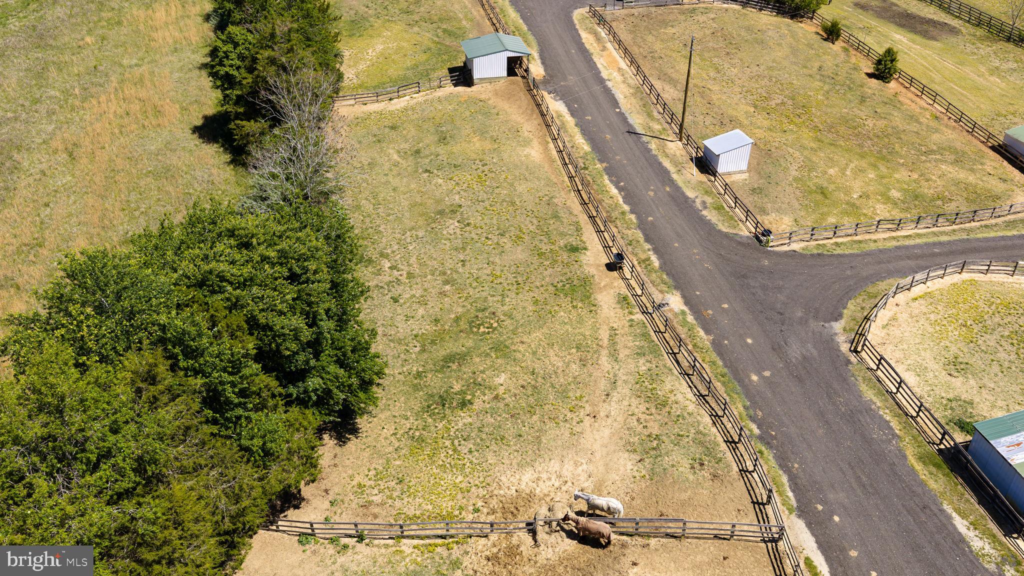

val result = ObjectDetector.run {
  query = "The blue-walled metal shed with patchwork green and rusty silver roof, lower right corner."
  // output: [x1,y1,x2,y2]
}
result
[971,410,1024,511]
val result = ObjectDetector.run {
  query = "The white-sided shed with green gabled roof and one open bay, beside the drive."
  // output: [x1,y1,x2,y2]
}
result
[460,32,533,84]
